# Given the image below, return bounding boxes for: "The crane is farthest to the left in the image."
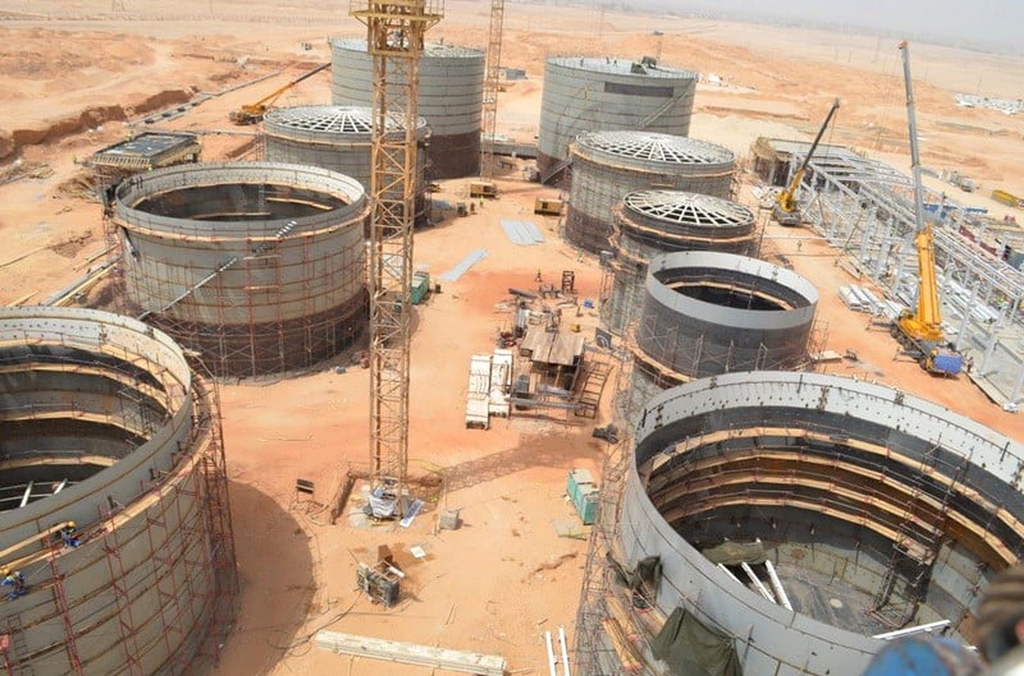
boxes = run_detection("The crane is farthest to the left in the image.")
[222,66,326,123]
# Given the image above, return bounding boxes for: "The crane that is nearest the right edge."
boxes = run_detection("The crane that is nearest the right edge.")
[865,41,969,373]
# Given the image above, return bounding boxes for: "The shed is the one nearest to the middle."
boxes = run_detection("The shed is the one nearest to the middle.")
[521,328,586,392]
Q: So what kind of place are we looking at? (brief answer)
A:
industrial area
